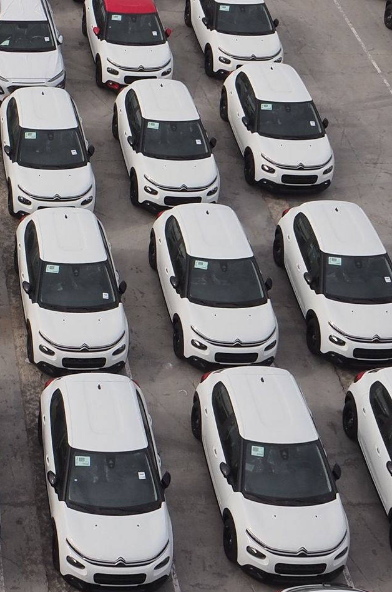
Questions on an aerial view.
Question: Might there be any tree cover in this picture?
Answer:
No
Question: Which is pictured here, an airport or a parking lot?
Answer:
parking lot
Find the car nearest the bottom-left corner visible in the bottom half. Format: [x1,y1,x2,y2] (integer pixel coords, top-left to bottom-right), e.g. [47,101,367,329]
[37,370,172,591]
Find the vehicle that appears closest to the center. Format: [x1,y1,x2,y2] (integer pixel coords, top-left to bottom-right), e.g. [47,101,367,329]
[150,199,277,368]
